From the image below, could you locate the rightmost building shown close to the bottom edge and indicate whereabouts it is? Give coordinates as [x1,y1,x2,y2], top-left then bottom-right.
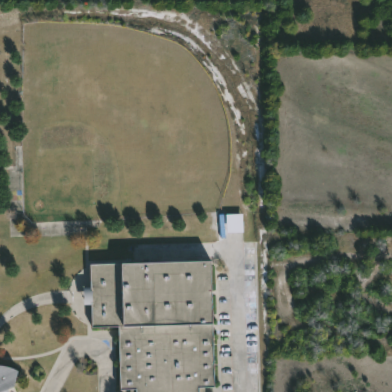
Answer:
[84,261,214,392]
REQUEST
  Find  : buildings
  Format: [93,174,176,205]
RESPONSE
[0,366,18,392]
[84,261,214,392]
[219,213,244,238]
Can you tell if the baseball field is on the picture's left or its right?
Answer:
left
